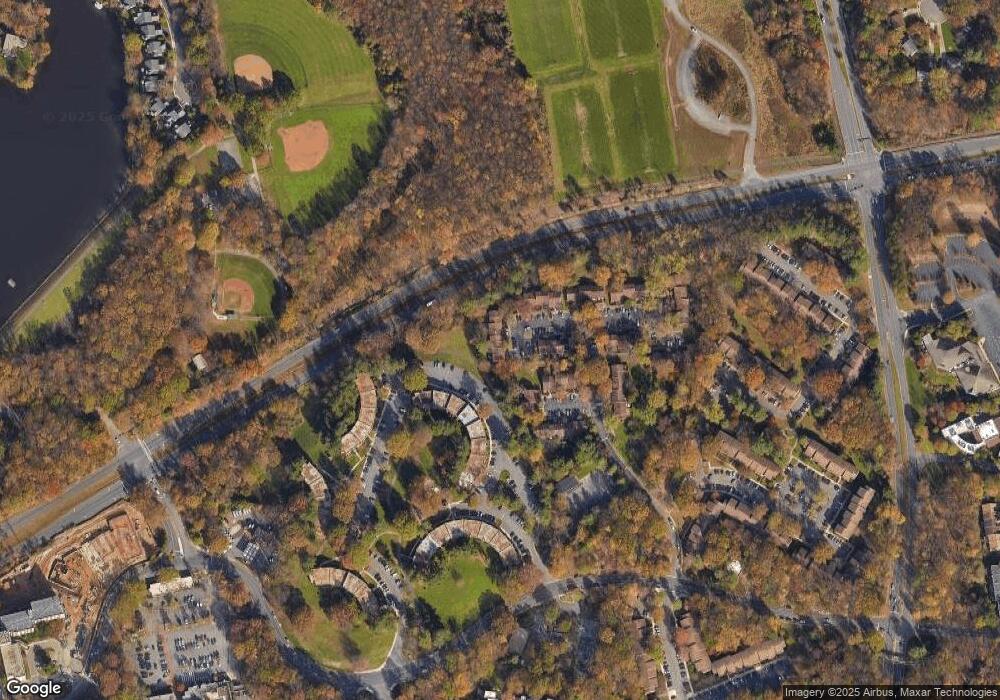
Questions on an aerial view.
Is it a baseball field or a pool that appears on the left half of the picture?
baseball field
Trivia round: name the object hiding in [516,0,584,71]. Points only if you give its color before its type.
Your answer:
green sports field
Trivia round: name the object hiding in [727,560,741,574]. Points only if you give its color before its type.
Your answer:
white gazebo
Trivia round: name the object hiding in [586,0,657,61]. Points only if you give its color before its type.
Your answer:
green sports field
